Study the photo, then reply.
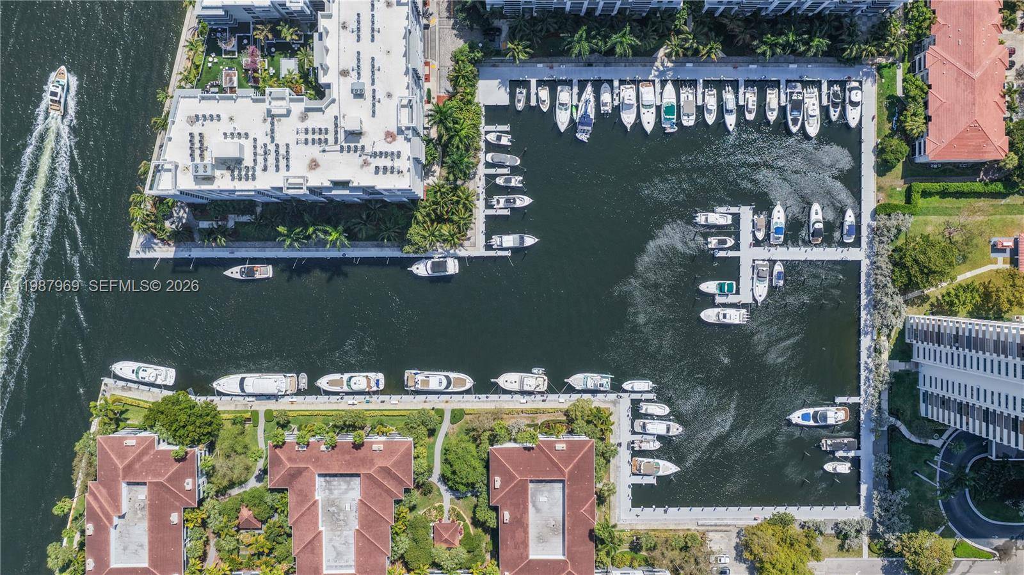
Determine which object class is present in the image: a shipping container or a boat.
boat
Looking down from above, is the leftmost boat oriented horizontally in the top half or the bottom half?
bottom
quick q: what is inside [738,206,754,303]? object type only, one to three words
pier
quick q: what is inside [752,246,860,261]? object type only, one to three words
pier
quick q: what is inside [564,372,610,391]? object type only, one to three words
boat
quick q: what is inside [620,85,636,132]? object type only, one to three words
boat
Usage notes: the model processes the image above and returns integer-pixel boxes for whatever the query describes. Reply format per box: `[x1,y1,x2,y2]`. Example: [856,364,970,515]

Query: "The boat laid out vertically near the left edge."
[50,66,68,119]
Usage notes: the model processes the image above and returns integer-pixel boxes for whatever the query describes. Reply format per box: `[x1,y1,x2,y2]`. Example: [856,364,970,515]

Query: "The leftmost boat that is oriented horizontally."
[110,363,177,385]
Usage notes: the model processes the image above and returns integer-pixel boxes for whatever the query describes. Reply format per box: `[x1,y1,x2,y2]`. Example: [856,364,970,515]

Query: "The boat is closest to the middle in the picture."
[491,234,540,249]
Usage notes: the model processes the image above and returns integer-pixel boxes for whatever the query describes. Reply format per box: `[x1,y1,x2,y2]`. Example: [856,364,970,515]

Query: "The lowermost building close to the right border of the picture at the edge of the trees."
[906,315,1024,450]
